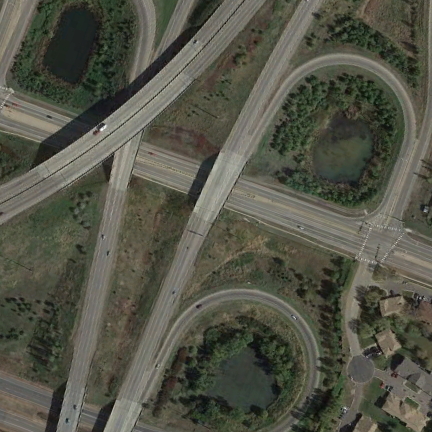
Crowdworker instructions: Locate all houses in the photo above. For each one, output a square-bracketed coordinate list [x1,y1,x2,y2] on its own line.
[390,353,432,399]
[380,296,407,315]
[347,414,378,432]
[376,330,403,356]
[382,391,430,431]
[416,299,432,324]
